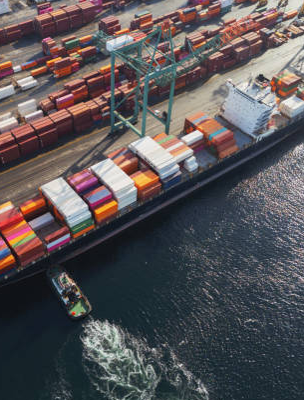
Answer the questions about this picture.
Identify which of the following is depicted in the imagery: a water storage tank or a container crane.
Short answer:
container crane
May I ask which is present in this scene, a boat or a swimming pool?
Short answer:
boat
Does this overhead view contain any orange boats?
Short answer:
No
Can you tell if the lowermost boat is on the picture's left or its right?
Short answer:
left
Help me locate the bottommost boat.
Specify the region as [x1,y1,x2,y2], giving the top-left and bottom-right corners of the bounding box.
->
[55,264,93,320]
